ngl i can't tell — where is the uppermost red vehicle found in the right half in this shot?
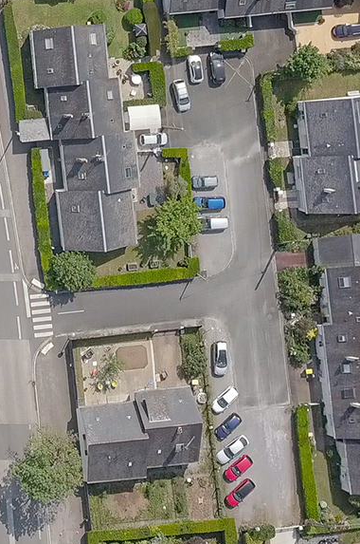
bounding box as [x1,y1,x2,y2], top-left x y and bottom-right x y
[223,454,253,481]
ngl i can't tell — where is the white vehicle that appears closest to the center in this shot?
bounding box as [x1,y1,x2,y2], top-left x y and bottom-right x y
[195,216,231,232]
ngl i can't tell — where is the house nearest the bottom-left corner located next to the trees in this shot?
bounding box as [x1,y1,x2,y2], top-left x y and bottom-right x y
[77,401,148,484]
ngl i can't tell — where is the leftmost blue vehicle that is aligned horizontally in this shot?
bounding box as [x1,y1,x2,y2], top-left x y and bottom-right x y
[193,197,225,212]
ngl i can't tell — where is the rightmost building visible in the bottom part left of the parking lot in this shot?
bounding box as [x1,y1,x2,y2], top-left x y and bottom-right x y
[130,384,202,468]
